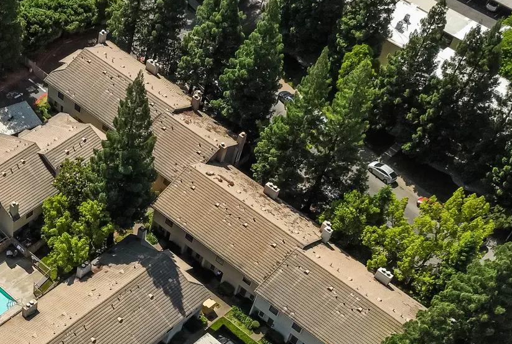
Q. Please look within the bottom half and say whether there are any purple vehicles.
No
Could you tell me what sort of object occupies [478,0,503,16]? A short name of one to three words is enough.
car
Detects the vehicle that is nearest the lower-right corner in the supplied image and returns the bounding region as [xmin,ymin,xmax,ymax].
[464,237,504,265]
